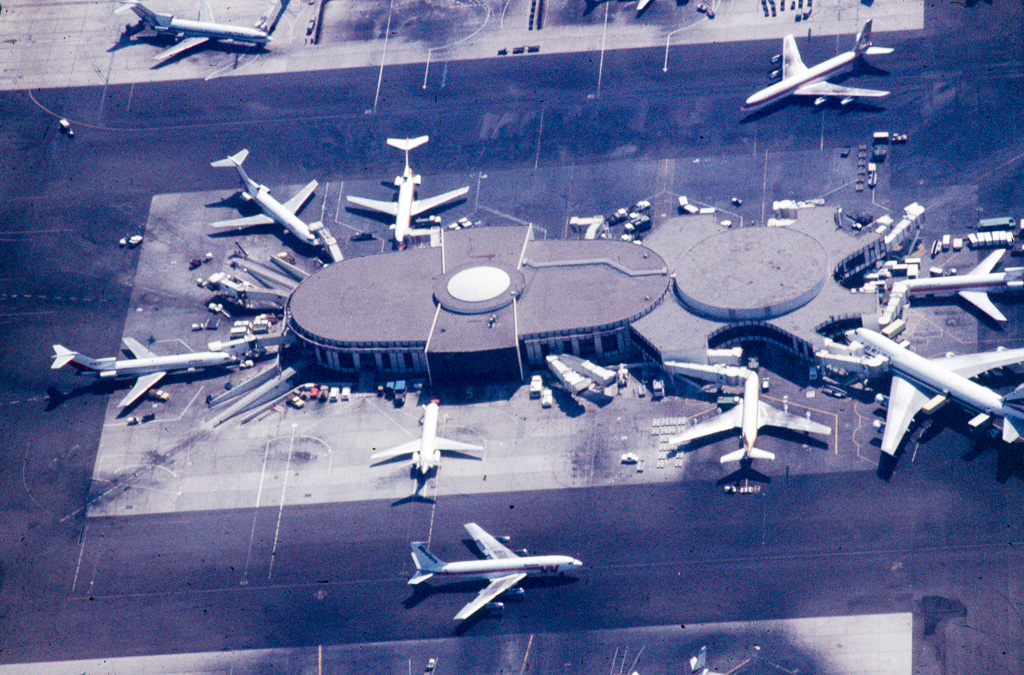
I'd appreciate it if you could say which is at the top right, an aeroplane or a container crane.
aeroplane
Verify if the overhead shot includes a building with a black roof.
No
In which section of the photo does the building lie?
center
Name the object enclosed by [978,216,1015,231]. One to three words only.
vehicle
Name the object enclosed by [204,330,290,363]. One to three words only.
jet bridge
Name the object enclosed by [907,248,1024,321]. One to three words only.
airplane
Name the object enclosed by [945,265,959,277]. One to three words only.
vehicle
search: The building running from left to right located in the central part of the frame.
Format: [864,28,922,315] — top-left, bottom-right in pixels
[282,206,895,391]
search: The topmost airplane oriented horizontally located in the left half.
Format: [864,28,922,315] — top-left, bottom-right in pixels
[110,0,272,59]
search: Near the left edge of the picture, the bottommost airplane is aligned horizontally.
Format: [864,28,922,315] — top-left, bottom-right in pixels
[49,335,235,408]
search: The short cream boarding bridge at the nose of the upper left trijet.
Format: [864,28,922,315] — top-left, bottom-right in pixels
[309,221,344,263]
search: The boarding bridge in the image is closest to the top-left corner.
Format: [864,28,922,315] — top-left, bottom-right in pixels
[259,0,286,33]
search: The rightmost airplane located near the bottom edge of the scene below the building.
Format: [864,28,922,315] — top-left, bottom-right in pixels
[682,644,739,675]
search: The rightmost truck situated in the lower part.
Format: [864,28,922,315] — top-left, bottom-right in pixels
[962,416,995,448]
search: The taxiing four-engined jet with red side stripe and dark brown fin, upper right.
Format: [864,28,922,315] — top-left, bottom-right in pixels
[743,20,897,117]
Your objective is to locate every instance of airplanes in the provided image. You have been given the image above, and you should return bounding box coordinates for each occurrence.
[743,20,897,117]
[670,374,834,468]
[209,151,318,245]
[346,137,470,248]
[907,248,1024,321]
[682,644,739,675]
[406,522,583,622]
[49,335,235,408]
[372,400,485,475]
[110,0,272,59]
[845,326,1024,460]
